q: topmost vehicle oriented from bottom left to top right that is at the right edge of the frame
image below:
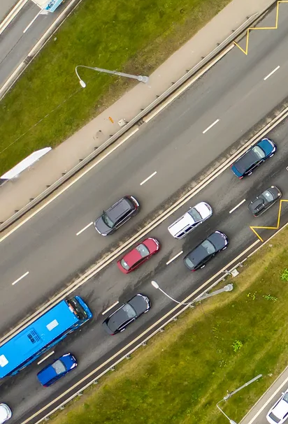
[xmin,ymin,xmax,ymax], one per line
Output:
[230,138,277,180]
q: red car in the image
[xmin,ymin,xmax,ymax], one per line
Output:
[117,236,163,274]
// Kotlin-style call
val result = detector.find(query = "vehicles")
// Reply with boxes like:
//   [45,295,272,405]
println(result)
[33,0,71,16]
[265,388,288,424]
[0,297,99,393]
[0,402,16,424]
[183,231,229,272]
[230,138,277,180]
[94,193,143,236]
[248,185,284,219]
[117,236,163,274]
[104,293,154,335]
[166,200,214,239]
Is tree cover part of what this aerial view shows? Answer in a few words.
No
